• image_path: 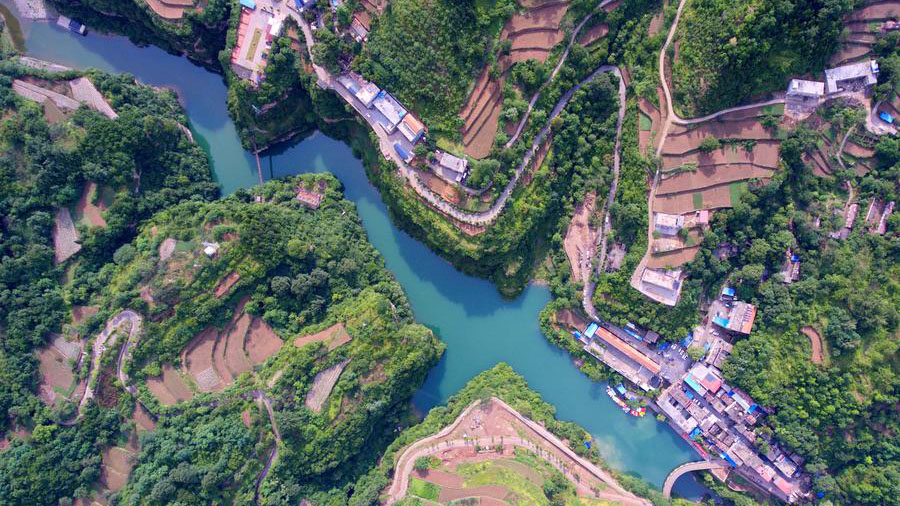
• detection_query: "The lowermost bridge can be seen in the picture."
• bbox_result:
[658,457,723,506]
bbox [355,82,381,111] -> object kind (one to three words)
house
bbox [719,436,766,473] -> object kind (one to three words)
house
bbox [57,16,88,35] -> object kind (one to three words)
vessel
